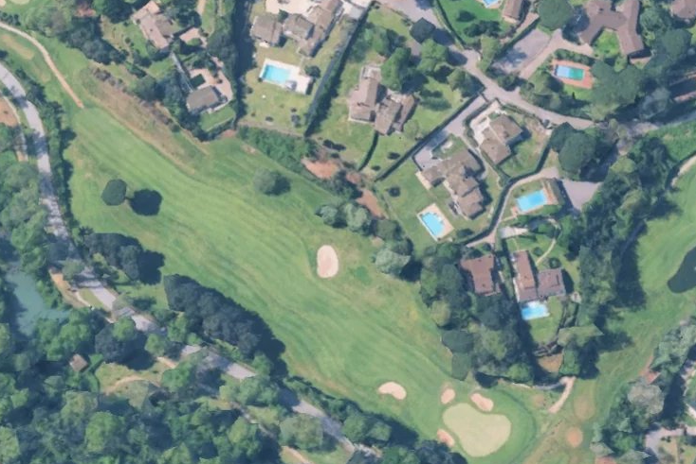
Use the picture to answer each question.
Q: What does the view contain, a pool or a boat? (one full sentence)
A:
Of the two, only a pool appears.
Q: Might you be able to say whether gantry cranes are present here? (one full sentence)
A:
No, this view has no gantry crane in it.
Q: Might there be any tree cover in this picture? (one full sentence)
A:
Yes, there is tree cover in the image.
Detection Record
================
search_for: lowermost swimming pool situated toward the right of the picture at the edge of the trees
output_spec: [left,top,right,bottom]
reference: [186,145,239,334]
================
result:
[520,301,551,321]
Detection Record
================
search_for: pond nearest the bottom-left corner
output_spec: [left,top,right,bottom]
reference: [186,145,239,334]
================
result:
[1,265,74,340]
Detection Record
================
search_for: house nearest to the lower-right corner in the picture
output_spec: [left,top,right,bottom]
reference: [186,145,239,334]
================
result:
[514,250,566,303]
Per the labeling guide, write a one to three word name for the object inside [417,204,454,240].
swimming pool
